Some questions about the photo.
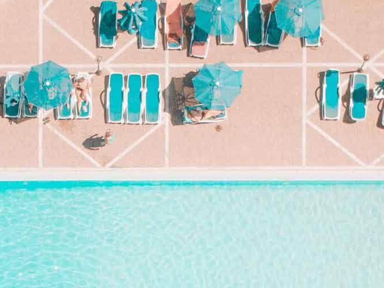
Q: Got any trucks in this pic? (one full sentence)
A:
No, I can see no truck in this picture.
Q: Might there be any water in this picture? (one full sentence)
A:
Yes, water shows up in the scene.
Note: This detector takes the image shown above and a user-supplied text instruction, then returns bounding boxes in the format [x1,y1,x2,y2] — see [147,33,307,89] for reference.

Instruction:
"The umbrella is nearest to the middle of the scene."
[194,58,242,106]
